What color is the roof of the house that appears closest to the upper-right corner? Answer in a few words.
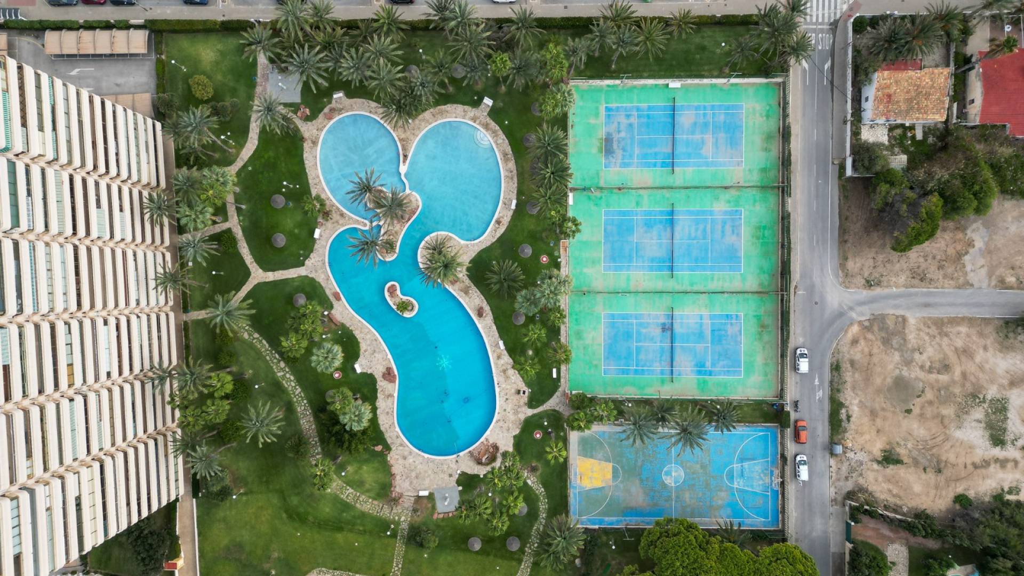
red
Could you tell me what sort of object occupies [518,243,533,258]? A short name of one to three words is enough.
umbrella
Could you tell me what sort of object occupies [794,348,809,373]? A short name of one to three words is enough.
car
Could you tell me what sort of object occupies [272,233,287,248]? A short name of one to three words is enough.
umbrella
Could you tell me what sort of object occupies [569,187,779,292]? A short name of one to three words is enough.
tennis court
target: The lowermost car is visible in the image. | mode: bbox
[794,454,809,481]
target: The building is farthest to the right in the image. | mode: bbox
[967,49,1024,138]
